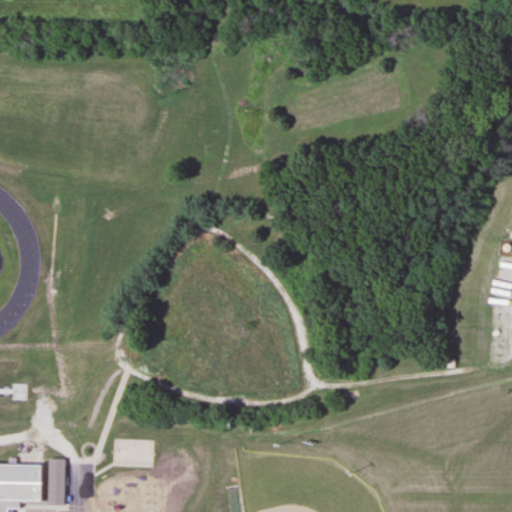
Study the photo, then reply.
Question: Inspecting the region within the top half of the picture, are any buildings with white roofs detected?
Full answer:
No, no building with a white roof can be made out within the top half of the picture.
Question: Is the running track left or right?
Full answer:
The running track is on the left side of the image.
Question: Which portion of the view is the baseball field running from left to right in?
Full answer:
You can find the baseball field running from left to right in the bottom area of the picture.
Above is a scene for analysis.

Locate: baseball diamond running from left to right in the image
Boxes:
[236,448,384,512]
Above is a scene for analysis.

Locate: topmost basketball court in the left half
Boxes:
[114,439,154,468]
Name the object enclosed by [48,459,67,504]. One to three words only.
building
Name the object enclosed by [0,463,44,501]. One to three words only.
building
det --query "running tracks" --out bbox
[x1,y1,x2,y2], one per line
[0,190,40,334]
